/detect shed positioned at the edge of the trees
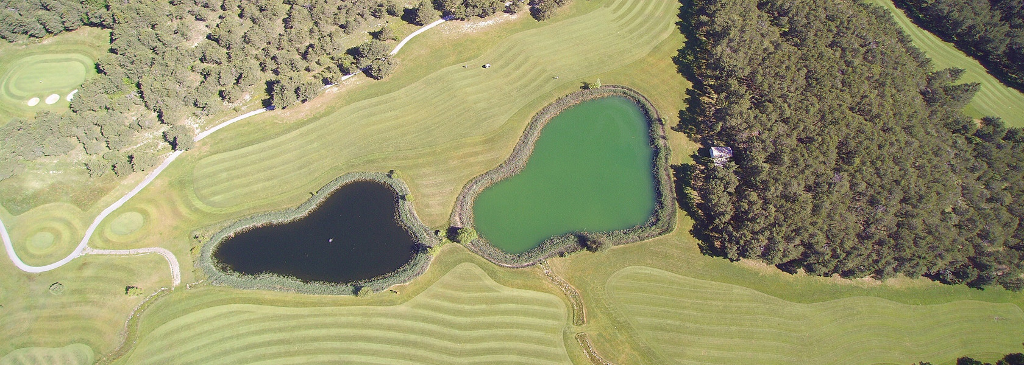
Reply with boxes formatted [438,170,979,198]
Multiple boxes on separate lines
[709,147,733,169]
